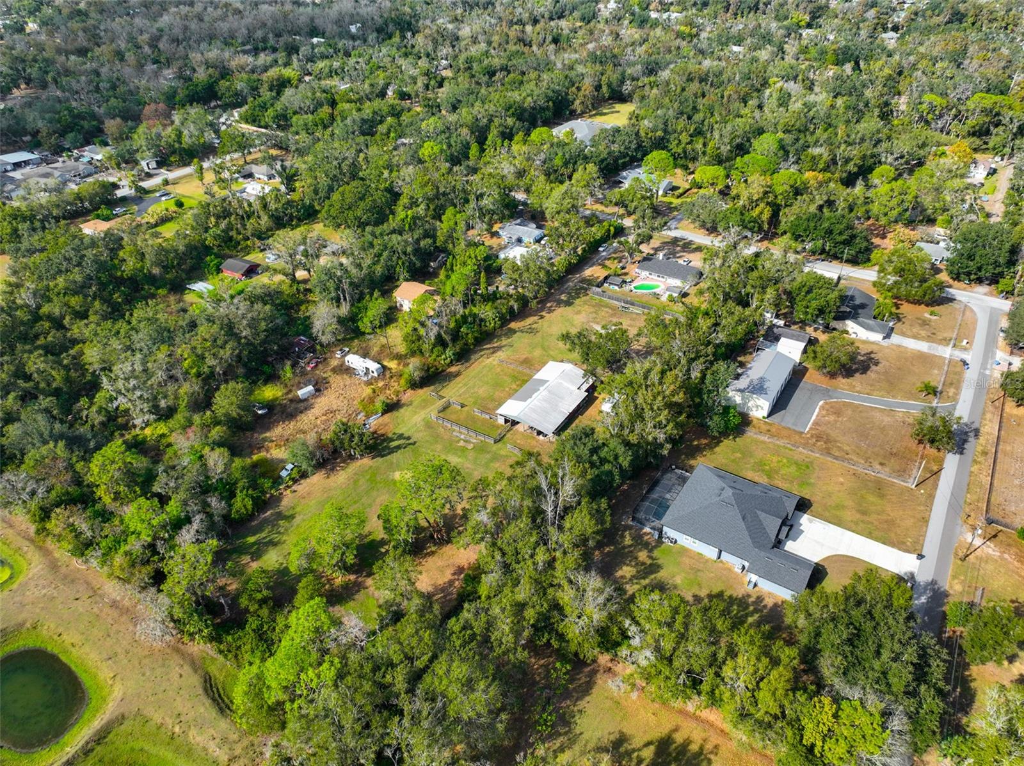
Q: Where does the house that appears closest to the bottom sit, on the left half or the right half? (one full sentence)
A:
You can find the house that appears closest to the bottom on the right side of the picture.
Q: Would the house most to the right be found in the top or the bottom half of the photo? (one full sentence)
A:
The house most to the right is in the top half of the image.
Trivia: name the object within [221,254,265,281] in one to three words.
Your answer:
barn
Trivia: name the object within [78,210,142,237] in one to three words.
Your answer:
house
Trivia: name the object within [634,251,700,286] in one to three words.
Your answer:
house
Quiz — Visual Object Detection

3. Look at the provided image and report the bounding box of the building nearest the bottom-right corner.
[659,462,815,601]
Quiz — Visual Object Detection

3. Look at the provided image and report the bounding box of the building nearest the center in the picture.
[493,361,600,440]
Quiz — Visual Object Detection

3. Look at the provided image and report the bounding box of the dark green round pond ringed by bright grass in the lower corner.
[0,654,93,757]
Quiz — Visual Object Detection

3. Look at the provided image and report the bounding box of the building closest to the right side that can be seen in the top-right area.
[967,154,994,180]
